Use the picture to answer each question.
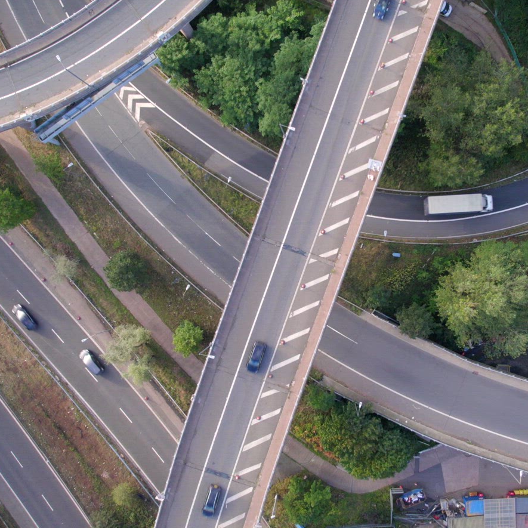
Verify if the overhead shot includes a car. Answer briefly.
Yes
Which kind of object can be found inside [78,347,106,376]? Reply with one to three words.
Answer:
car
